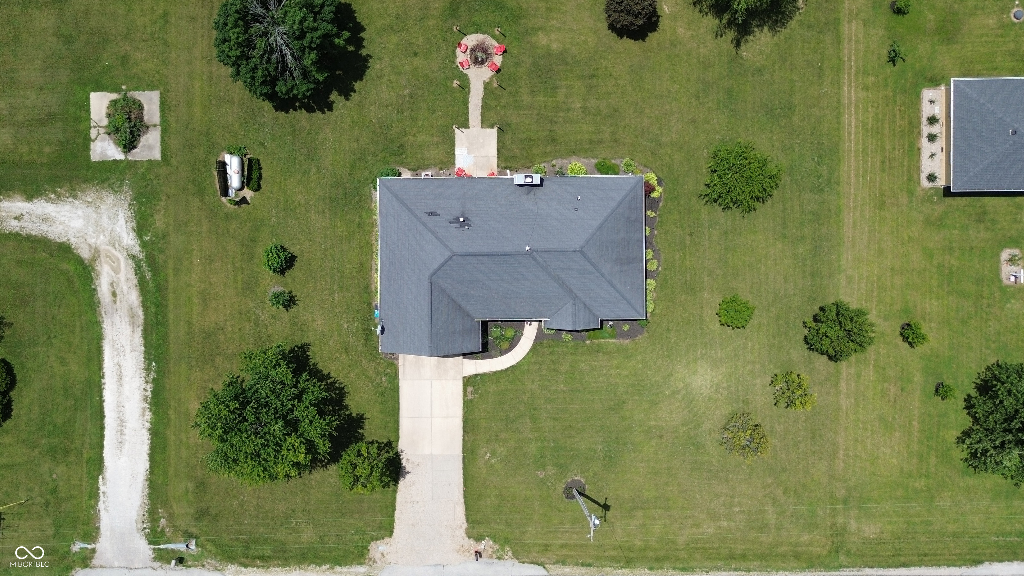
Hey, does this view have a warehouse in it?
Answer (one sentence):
No, there appears to be no warehouse in this shot.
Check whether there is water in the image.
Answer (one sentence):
No, no water is visible.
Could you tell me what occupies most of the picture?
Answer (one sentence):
For the most part, this view shows grass.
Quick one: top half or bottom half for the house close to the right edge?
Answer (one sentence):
The house close to the right edge is in the top half of the image.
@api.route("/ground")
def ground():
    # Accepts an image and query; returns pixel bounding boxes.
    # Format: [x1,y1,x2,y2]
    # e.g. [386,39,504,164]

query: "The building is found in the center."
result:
[379,170,645,357]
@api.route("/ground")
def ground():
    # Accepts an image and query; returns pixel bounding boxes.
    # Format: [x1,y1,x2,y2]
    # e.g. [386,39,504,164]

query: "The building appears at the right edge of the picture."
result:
[938,77,1024,191]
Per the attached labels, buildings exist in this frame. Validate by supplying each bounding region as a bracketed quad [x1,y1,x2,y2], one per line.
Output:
[379,170,645,357]
[938,77,1024,191]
